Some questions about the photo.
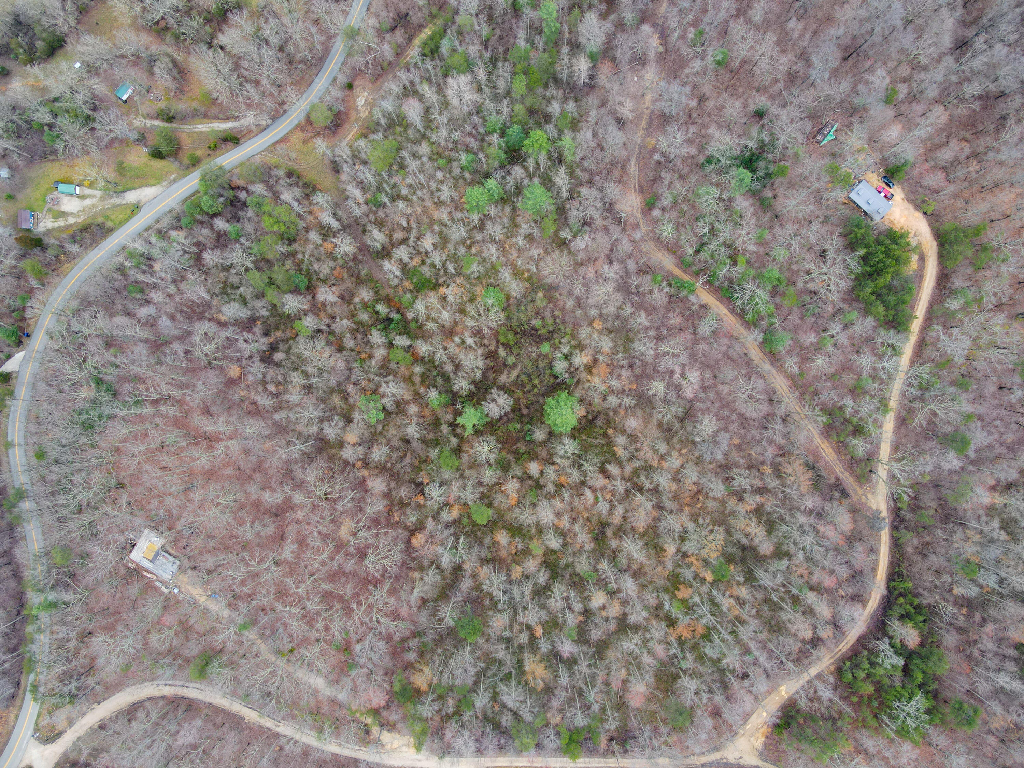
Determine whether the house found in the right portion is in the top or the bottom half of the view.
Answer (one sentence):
Seen from above, the house found in the right portion lies in the top half of the view.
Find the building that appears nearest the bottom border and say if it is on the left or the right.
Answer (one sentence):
The building that appears nearest the bottom border appears in the left half of the scene.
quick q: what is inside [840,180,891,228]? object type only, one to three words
house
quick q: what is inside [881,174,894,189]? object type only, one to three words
vehicle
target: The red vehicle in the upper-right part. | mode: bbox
[875,185,895,200]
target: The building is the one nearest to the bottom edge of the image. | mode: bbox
[129,531,180,581]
